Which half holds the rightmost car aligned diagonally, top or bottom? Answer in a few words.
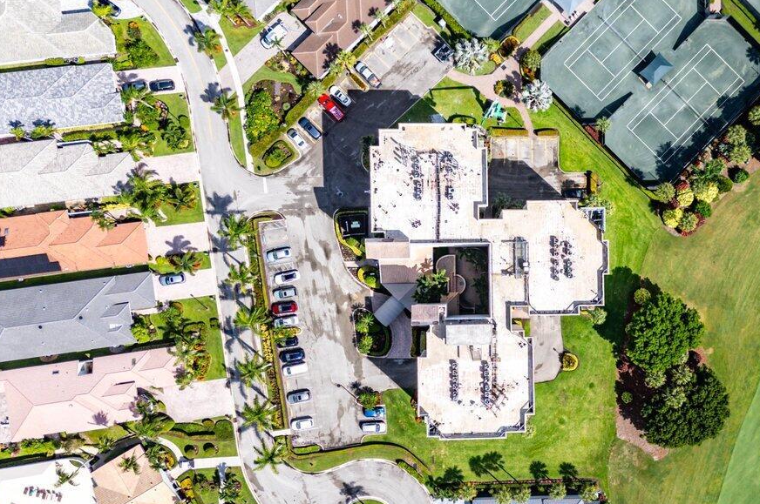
top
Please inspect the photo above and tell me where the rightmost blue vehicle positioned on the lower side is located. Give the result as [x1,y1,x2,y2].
[363,405,387,418]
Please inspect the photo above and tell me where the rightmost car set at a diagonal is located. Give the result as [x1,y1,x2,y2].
[433,42,453,63]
